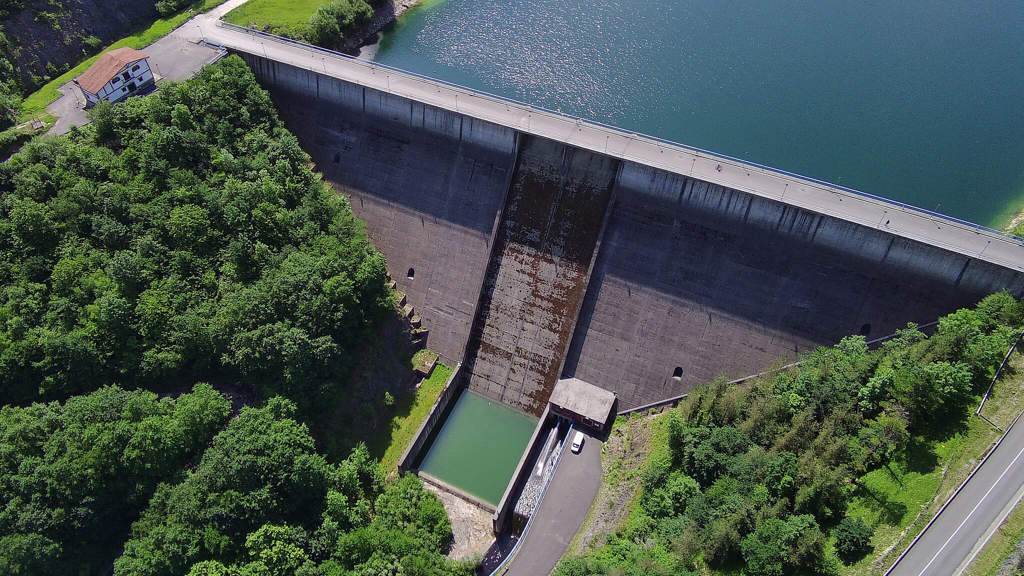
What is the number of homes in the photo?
2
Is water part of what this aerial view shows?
Yes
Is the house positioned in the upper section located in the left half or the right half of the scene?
left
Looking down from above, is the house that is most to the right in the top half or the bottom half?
bottom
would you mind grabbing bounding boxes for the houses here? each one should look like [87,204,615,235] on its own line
[68,51,154,110]
[549,381,617,430]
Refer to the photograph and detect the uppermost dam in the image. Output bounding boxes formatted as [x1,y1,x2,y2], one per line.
[218,24,1024,424]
